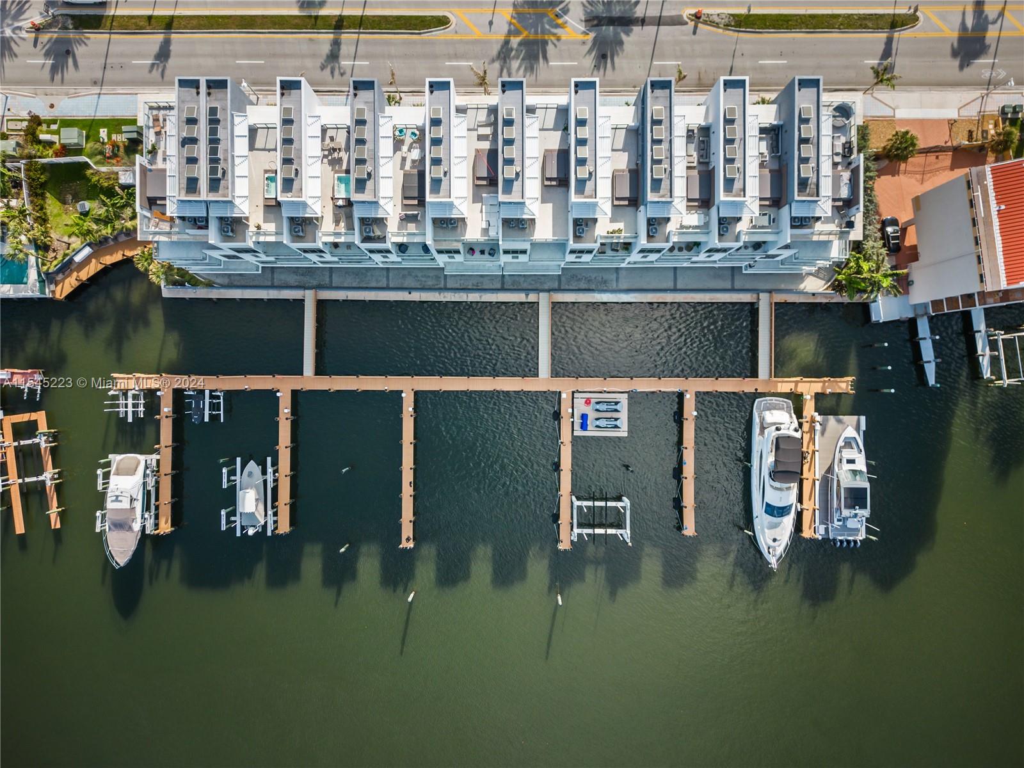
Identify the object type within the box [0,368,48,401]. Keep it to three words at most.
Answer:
pier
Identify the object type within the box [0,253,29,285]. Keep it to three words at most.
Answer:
swimming pool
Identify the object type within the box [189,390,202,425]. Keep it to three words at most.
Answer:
boat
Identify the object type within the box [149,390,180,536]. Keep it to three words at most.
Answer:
pier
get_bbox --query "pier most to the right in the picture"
[963,315,998,379]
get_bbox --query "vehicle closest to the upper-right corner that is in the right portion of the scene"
[878,215,901,255]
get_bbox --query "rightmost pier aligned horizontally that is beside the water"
[866,294,932,323]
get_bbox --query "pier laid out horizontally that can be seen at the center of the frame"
[112,375,854,395]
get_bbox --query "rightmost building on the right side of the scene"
[908,156,1024,324]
